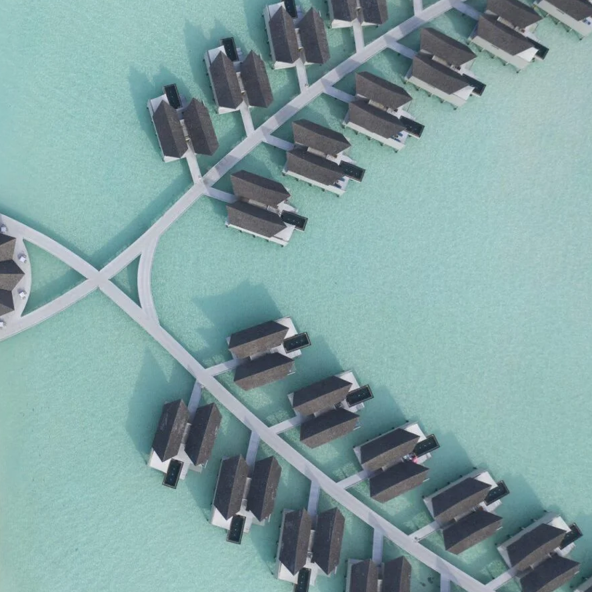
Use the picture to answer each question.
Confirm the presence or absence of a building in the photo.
Yes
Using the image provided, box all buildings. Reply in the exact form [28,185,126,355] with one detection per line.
[413,462,503,554]
[201,39,271,120]
[395,29,480,113]
[206,450,282,538]
[259,0,330,76]
[525,0,592,44]
[460,0,543,77]
[277,119,361,198]
[145,397,222,483]
[282,366,368,448]
[145,85,217,167]
[321,0,386,36]
[221,171,304,248]
[336,72,420,155]
[269,501,345,591]
[223,315,307,391]
[345,416,433,502]
[485,504,580,592]
[339,549,411,592]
